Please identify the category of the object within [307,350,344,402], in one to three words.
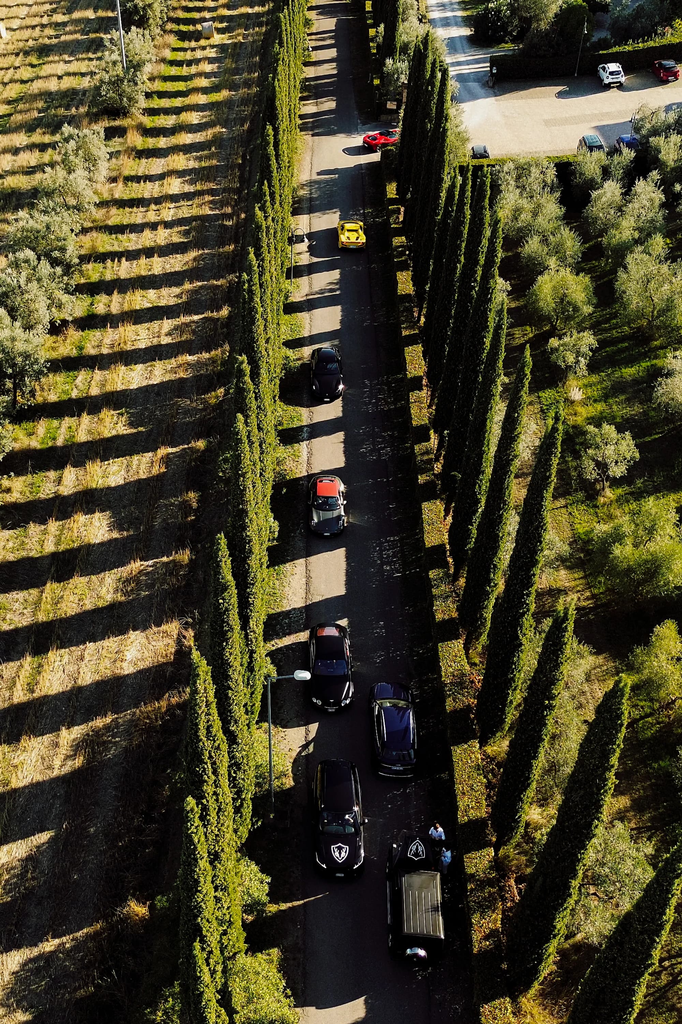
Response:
car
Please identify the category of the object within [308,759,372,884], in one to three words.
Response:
car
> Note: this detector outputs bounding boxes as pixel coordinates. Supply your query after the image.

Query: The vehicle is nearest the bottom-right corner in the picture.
[383,835,446,965]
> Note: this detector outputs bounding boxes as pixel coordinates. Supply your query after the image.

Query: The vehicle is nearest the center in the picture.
[307,474,346,537]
